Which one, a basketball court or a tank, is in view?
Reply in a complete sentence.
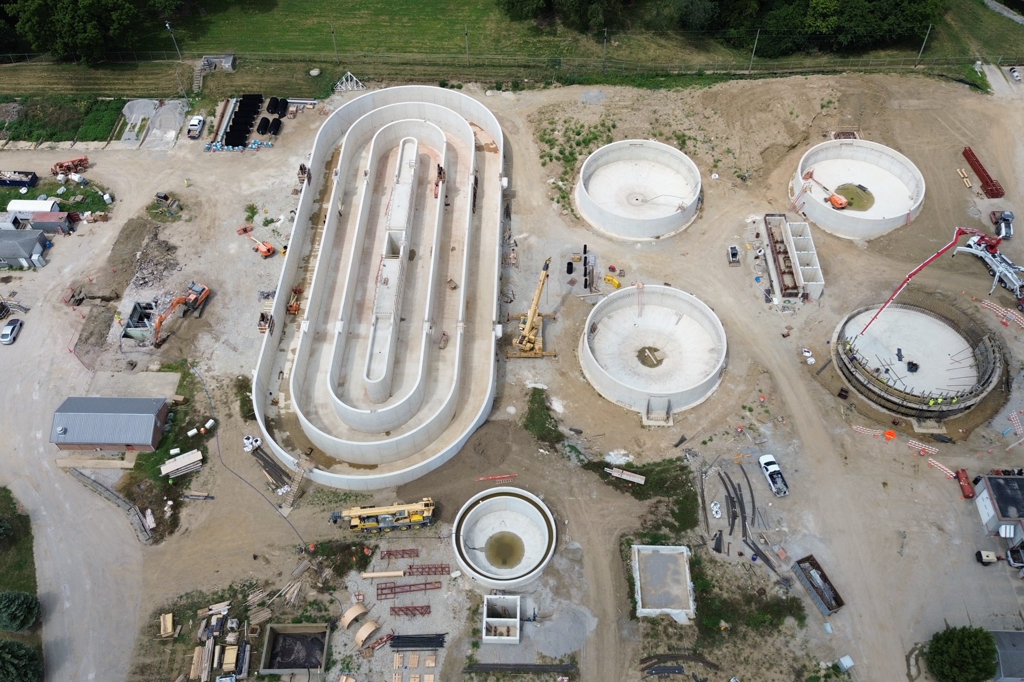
This aerial view contains a tank.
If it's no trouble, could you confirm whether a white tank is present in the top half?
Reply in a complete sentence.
Yes, a white tank appears in the top half.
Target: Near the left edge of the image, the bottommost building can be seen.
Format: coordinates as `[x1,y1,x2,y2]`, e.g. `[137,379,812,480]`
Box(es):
[50,395,172,456]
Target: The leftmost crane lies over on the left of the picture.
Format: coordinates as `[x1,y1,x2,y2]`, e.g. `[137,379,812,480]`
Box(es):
[324,496,436,533]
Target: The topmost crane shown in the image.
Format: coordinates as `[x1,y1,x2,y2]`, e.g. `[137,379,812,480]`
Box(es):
[503,255,560,362]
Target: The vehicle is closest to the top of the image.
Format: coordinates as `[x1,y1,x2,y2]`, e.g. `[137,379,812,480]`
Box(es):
[187,111,203,135]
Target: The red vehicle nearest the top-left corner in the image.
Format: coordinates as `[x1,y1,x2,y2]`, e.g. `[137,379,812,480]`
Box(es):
[42,155,84,179]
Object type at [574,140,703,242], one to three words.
storage tank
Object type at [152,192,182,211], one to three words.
work vehicle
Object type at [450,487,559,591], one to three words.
storage tank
